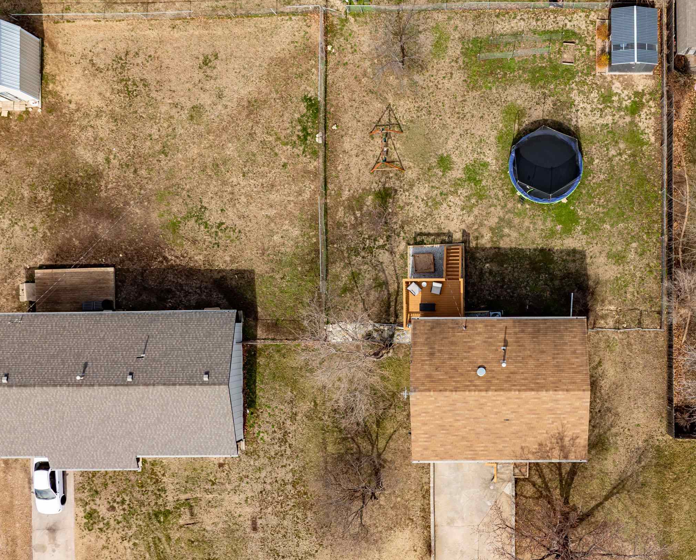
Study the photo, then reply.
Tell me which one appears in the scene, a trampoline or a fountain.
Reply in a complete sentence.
There is a trampoline in the scene.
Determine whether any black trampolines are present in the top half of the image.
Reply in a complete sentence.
Yes, looking in the top half of the image, one can make out a black trampoline.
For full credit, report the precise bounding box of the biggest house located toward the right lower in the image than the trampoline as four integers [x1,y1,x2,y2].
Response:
[400,316,590,464]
